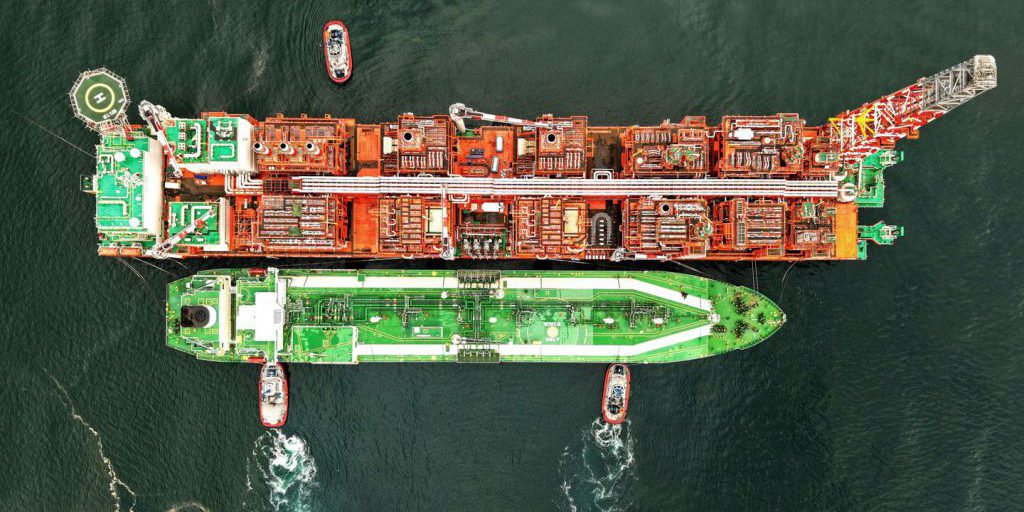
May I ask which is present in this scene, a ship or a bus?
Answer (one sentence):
There is a ship in the scene.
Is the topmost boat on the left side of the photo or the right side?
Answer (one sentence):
The topmost boat appears in the left half of the scene.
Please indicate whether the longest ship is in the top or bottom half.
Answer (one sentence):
You can find the longest ship in the top half.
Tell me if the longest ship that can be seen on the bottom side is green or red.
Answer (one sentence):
The longest ship that can be seen on the bottom side looks green in the image.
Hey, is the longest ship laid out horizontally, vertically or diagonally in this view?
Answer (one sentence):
Seen from above, the longest ship lies horizontally.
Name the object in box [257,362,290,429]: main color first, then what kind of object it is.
white boat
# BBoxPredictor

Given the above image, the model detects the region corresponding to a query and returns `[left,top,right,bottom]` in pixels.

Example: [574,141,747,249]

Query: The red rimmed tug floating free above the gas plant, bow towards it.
[321,19,356,85]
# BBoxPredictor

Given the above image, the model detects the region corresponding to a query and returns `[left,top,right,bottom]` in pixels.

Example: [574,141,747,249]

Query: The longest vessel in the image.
[67,53,1000,262]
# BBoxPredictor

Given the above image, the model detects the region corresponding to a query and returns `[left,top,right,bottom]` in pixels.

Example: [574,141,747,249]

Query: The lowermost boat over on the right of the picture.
[601,363,631,425]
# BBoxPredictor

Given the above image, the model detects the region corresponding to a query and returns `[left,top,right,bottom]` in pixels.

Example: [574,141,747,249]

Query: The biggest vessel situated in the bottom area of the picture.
[166,267,787,366]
